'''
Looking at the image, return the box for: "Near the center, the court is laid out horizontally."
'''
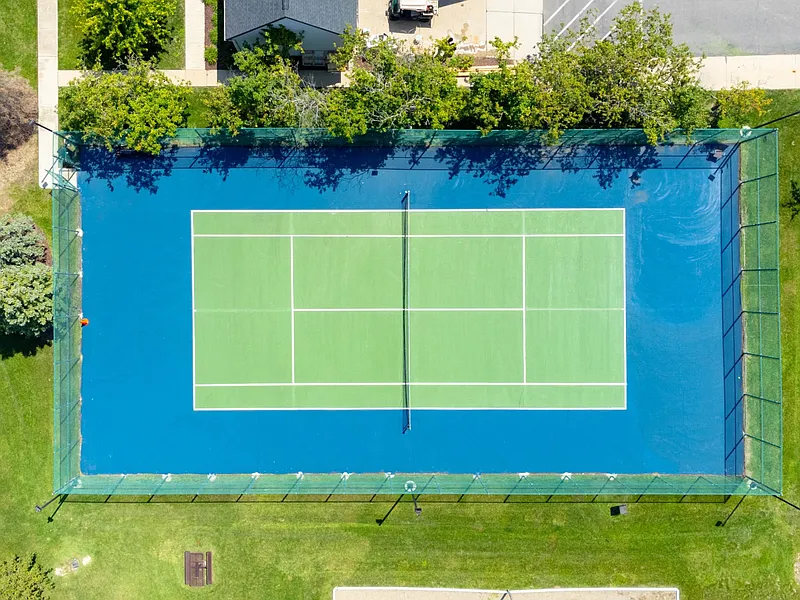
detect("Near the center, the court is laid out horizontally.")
[77,143,749,477]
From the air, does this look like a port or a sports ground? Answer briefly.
sports ground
